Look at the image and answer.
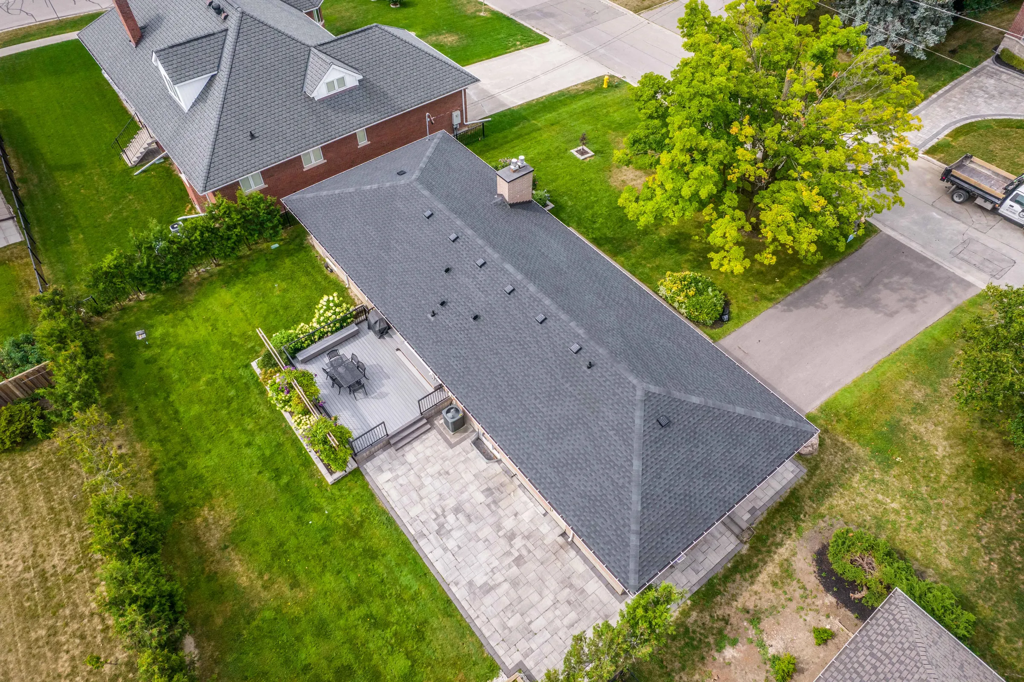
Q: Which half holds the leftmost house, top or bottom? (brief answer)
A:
top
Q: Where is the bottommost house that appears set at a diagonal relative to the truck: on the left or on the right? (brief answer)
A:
left of it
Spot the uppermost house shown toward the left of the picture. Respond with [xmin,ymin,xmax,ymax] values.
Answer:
[75,0,493,218]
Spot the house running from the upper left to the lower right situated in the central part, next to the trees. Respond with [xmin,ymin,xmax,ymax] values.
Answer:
[281,113,820,598]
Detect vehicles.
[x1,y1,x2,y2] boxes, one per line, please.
[937,152,1024,235]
